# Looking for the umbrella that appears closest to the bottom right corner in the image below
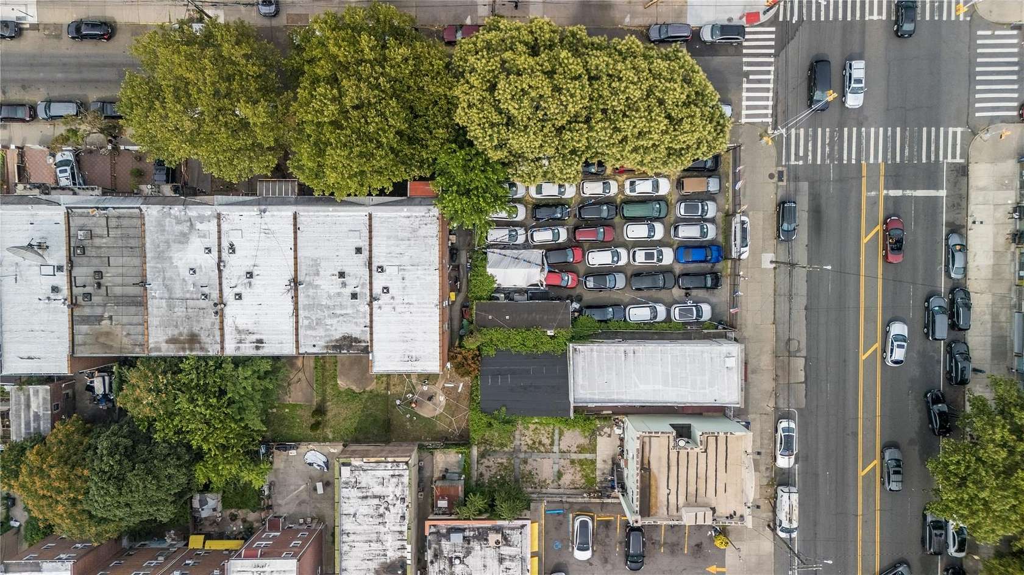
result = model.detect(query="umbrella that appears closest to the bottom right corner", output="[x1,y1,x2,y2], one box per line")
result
[714,534,728,548]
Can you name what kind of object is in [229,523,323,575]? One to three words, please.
house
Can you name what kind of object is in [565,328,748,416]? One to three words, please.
building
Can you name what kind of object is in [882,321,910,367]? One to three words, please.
car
